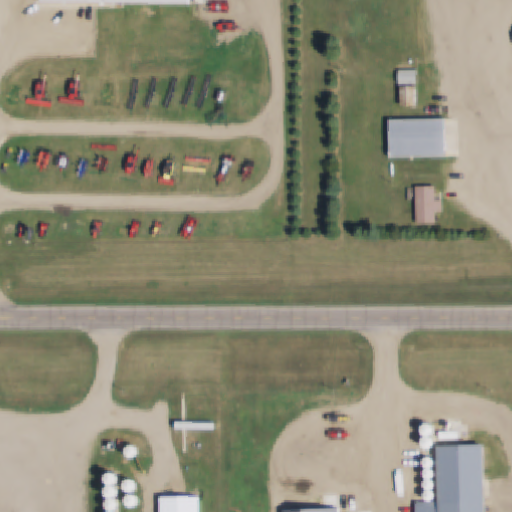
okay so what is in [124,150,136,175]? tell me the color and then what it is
red vehicle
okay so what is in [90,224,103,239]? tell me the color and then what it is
red vehicle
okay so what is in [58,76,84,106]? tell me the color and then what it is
red work vehicle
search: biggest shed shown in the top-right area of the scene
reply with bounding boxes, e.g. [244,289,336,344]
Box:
[388,118,444,157]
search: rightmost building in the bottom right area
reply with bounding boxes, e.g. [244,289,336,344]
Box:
[436,446,485,512]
